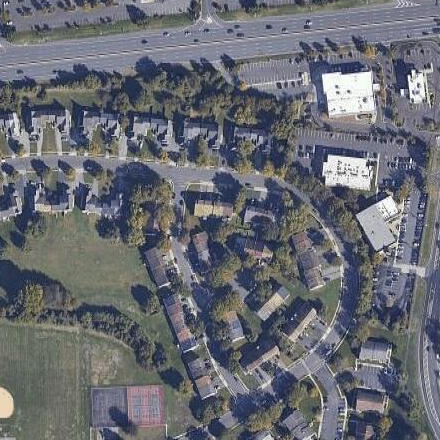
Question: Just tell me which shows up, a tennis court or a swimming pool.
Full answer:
The image shows a tennis court.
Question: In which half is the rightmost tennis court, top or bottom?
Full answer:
The bottom half of the photo is where the rightmost tennis court is.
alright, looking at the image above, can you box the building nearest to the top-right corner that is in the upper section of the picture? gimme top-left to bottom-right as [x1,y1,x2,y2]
[400,69,431,108]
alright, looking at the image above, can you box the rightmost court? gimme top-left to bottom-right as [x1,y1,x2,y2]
[127,385,165,426]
